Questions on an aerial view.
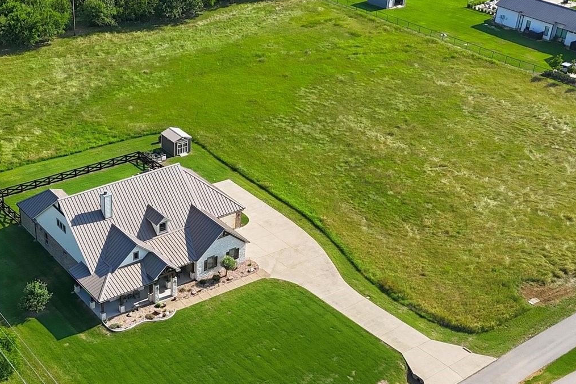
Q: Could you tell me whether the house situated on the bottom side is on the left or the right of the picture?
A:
left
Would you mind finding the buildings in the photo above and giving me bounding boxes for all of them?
[159,126,193,157]
[494,0,576,43]
[16,164,253,320]
[368,0,406,9]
